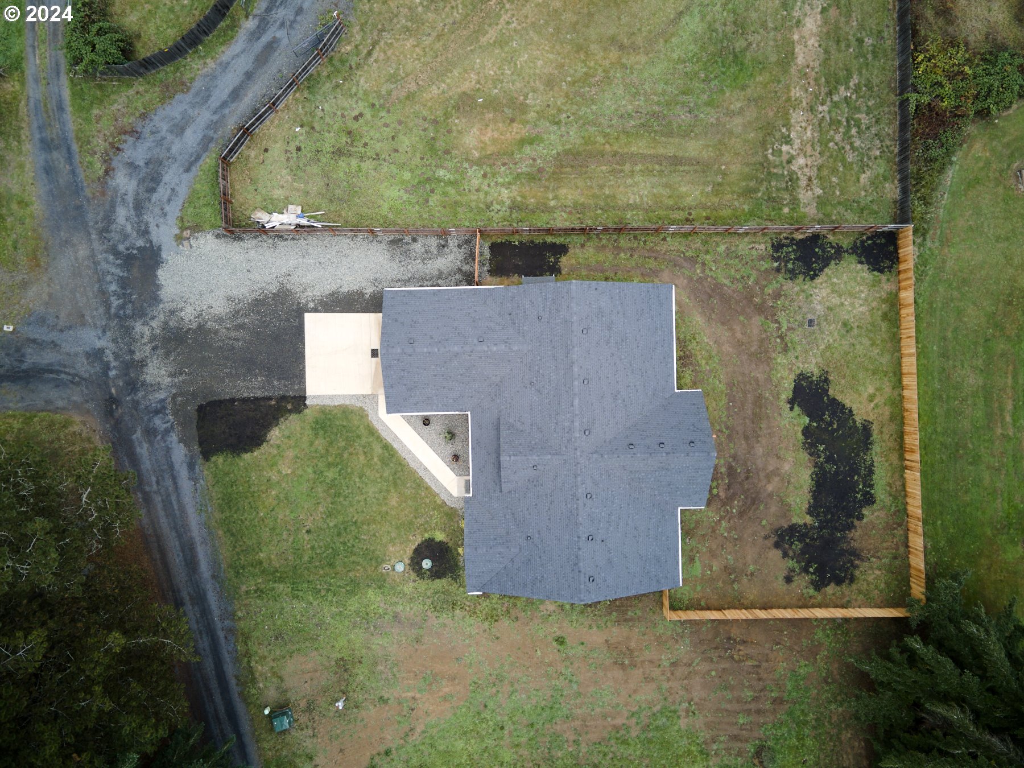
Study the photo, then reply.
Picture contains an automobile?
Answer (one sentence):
No, there appears to be no automobile in this shot.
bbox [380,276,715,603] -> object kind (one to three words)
house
